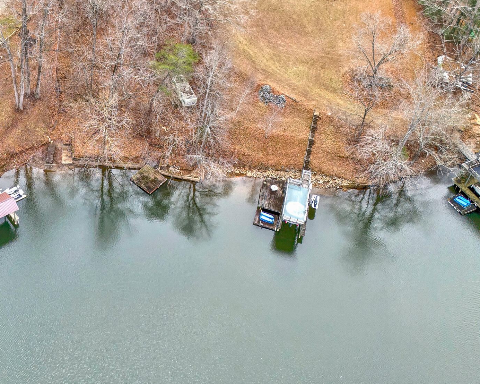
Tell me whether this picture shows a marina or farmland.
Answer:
marina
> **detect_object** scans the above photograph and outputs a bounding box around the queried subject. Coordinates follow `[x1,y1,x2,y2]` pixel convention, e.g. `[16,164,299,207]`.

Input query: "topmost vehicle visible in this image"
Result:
[168,80,196,117]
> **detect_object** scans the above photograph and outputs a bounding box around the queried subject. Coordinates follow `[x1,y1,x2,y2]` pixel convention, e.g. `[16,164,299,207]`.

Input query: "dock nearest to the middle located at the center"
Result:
[257,166,313,239]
